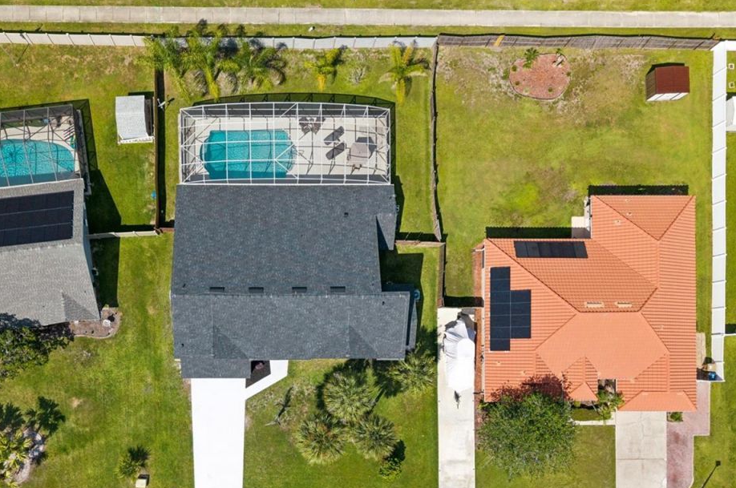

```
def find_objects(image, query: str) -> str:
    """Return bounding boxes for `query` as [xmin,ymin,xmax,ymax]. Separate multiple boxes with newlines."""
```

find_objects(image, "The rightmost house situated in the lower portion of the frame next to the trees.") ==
[473,194,697,412]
